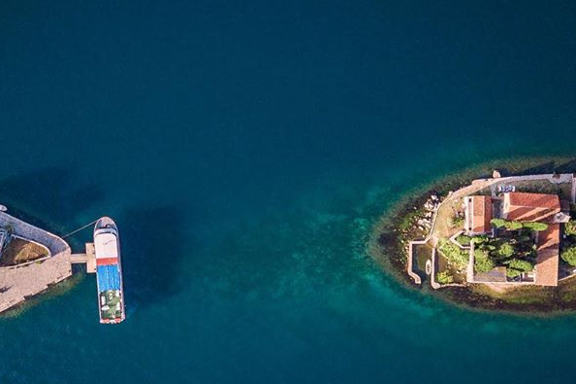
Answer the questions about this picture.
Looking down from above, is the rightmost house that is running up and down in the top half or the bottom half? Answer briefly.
bottom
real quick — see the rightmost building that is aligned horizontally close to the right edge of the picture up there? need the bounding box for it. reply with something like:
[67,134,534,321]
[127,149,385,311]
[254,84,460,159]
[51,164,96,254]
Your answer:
[502,193,571,225]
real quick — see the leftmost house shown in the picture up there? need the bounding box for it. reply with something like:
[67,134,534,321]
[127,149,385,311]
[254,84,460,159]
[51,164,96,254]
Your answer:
[461,196,492,232]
